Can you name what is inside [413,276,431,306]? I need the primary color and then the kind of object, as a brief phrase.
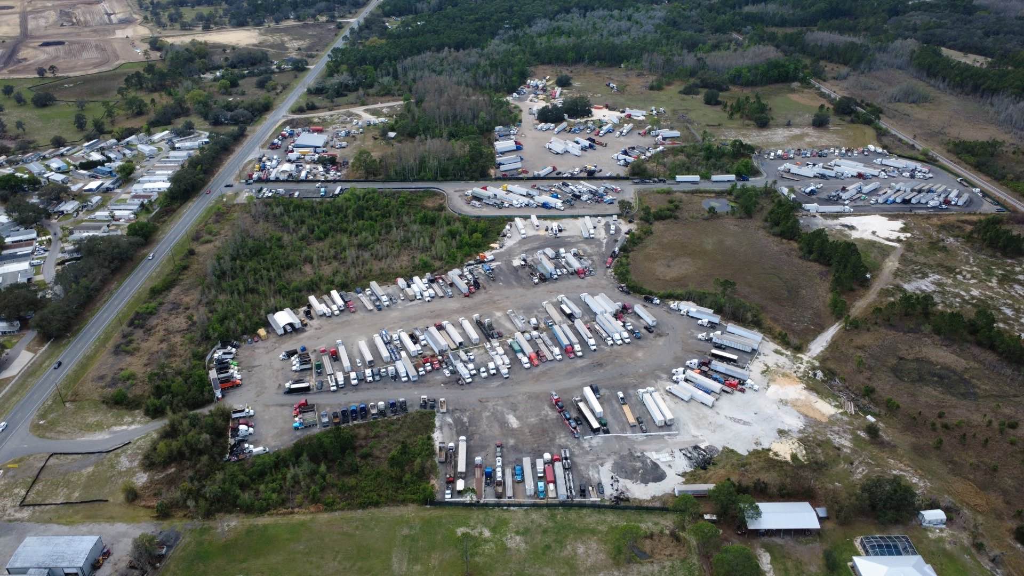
white vehicle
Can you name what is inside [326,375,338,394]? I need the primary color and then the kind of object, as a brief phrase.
white vehicle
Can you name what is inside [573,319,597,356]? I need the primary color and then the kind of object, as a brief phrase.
white truck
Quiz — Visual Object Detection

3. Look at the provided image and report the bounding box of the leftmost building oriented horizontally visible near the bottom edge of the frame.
[4,535,105,576]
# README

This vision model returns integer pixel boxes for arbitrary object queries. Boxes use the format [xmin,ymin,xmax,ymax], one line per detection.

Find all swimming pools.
[856,540,913,556]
